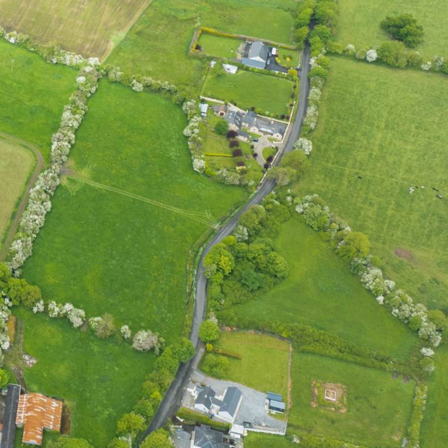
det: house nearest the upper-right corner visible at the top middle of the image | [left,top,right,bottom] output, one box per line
[241,42,269,74]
